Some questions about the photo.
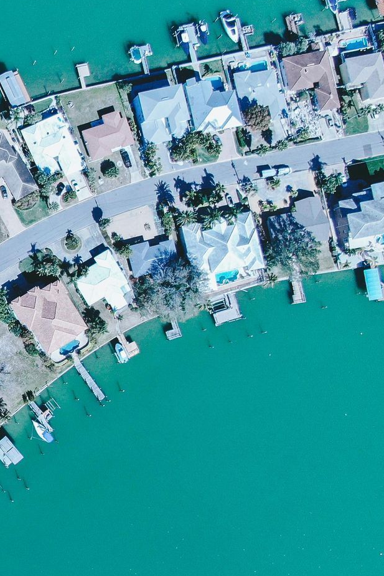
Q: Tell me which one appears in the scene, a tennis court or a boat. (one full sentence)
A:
Looking from above, you can make out a boat.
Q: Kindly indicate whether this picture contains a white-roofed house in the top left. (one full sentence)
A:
Yes, a white-roofed house is visible in the top left.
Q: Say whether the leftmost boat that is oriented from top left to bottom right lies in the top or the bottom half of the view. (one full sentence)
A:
The leftmost boat that is oriented from top left to bottom right is in the bottom half of the image.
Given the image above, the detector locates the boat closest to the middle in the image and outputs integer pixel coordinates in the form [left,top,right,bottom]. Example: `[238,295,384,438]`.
[116,343,130,366]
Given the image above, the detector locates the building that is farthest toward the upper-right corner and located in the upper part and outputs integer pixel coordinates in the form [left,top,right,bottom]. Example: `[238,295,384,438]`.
[336,51,384,102]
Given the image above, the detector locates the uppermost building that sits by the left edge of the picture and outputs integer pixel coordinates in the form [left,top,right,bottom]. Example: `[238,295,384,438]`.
[0,70,22,109]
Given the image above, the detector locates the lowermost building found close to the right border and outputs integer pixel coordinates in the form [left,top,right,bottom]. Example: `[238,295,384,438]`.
[356,269,380,299]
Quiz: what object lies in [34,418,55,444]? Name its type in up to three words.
boat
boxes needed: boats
[34,418,55,444]
[216,8,239,42]
[349,5,357,20]
[177,26,191,54]
[131,42,142,63]
[116,343,130,366]
[198,19,210,44]
[328,0,338,12]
